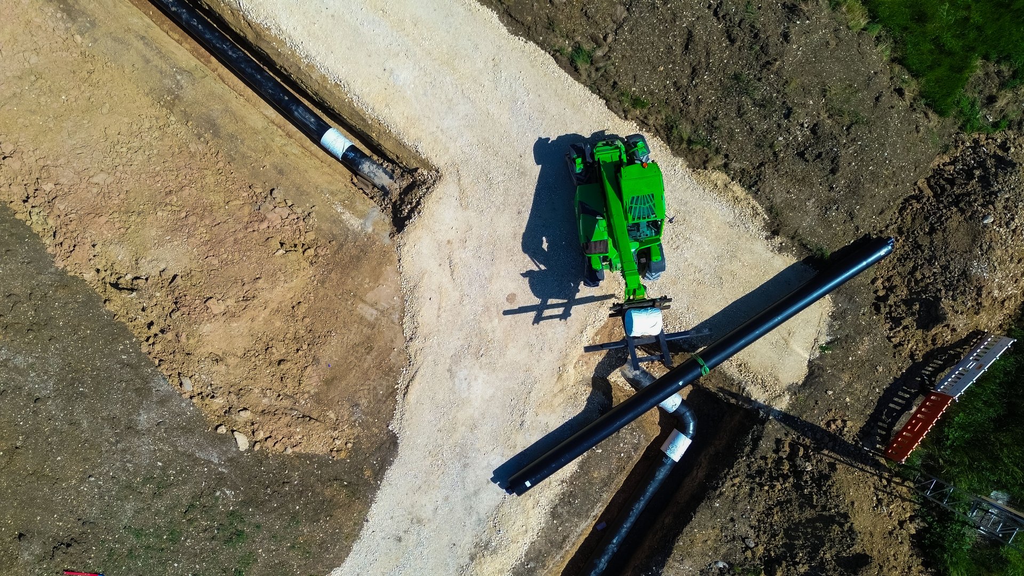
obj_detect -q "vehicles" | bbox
[565,130,676,371]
